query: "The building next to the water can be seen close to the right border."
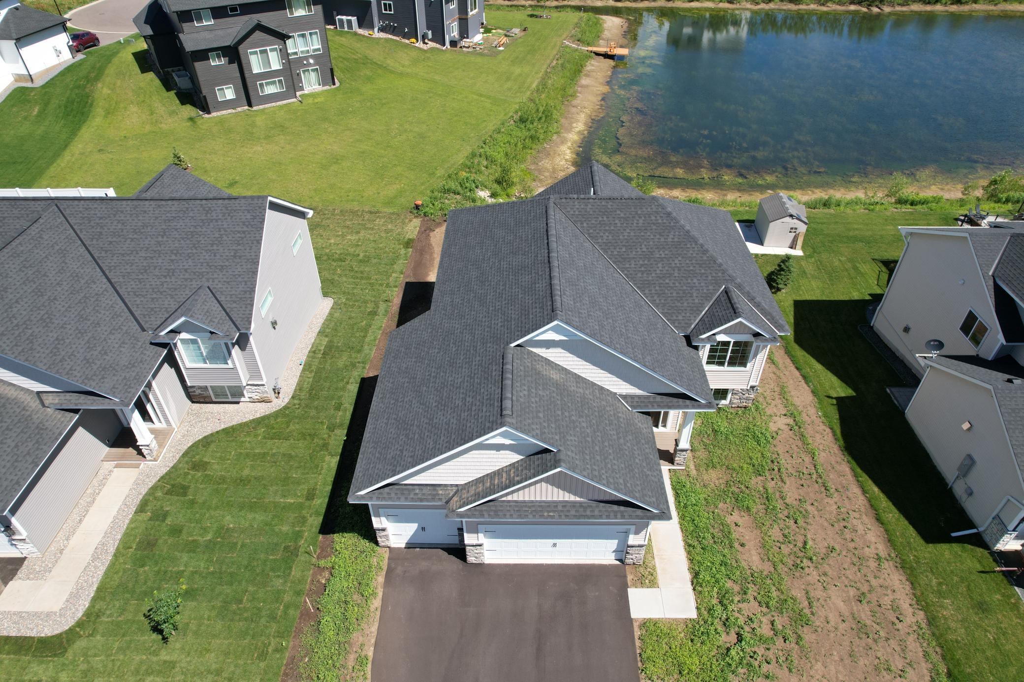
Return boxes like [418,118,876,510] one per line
[871,209,1024,562]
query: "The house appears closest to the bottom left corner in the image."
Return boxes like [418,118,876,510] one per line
[0,160,325,557]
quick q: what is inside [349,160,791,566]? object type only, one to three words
house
